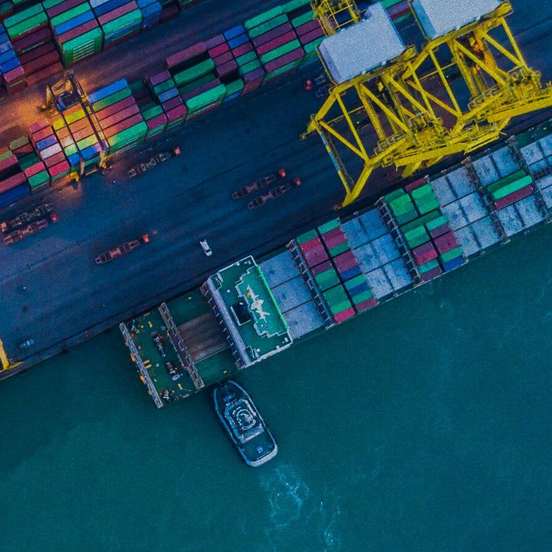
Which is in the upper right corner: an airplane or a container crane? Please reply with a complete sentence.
The feature located in the upper right corner is a container crane.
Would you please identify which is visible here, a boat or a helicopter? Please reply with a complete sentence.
Looking from above, you can make out a boat.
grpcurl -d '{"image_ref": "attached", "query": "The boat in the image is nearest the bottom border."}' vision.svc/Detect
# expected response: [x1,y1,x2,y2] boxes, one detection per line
[217,382,280,471]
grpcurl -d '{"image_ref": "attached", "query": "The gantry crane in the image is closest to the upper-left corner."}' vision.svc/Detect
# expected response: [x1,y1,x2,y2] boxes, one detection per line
[36,72,111,187]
